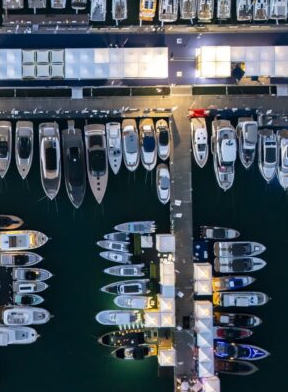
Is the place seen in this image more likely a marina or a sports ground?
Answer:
marina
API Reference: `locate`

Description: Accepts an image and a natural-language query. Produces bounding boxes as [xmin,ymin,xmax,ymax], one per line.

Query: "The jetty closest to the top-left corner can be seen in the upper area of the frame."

[2,12,89,25]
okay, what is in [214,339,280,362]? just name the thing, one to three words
boat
